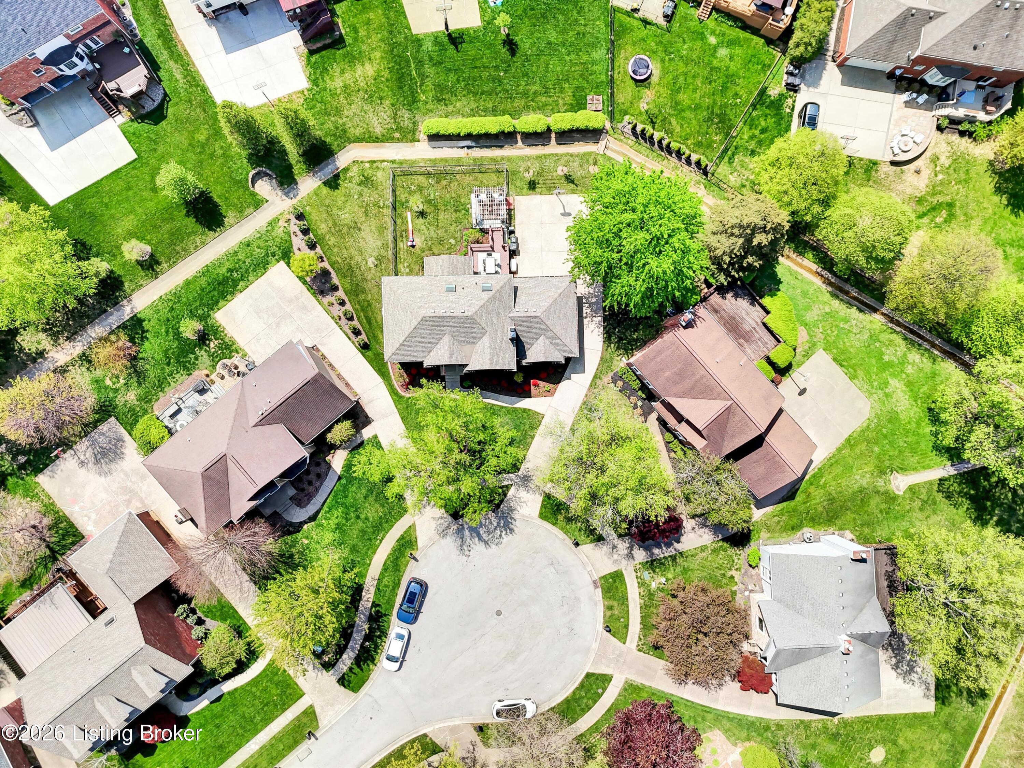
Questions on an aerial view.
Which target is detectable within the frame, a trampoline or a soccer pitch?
trampoline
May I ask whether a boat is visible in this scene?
No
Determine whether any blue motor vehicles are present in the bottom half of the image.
Yes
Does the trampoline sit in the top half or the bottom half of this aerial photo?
top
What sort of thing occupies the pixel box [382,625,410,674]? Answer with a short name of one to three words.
car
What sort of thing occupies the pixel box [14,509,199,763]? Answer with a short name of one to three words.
house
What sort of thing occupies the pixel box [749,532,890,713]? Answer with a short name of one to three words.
house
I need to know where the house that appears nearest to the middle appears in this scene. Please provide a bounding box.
[381,255,580,378]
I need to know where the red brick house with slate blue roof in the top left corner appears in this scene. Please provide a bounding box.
[0,0,141,109]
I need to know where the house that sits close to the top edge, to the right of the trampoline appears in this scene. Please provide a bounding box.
[833,0,1024,101]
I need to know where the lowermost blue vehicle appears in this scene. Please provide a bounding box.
[397,578,425,627]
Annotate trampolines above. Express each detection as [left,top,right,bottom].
[631,49,658,80]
